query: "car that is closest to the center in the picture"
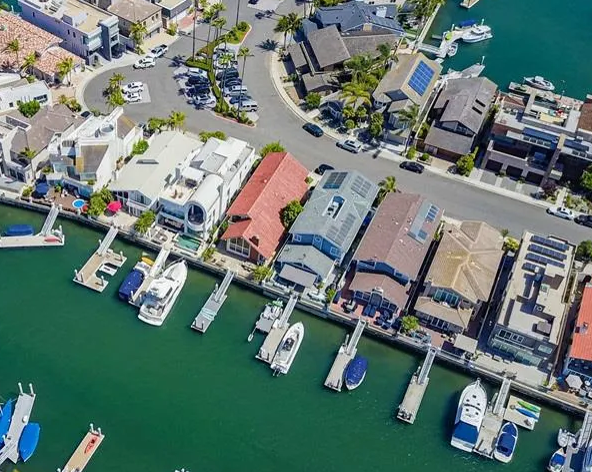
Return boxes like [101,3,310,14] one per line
[313,163,336,175]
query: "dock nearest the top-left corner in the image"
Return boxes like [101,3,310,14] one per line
[0,202,65,248]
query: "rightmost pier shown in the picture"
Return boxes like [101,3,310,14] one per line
[562,406,592,472]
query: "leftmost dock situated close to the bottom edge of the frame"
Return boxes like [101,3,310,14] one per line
[0,386,36,463]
